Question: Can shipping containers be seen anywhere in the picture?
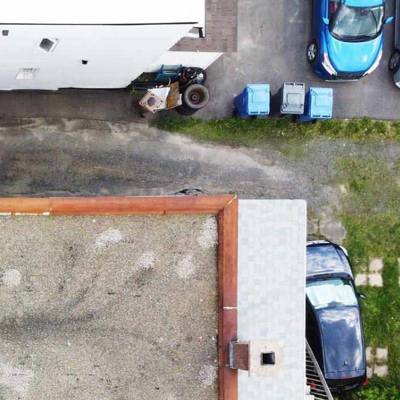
No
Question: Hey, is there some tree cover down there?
No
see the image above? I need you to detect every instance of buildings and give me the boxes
[0,196,307,400]
[0,0,237,89]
